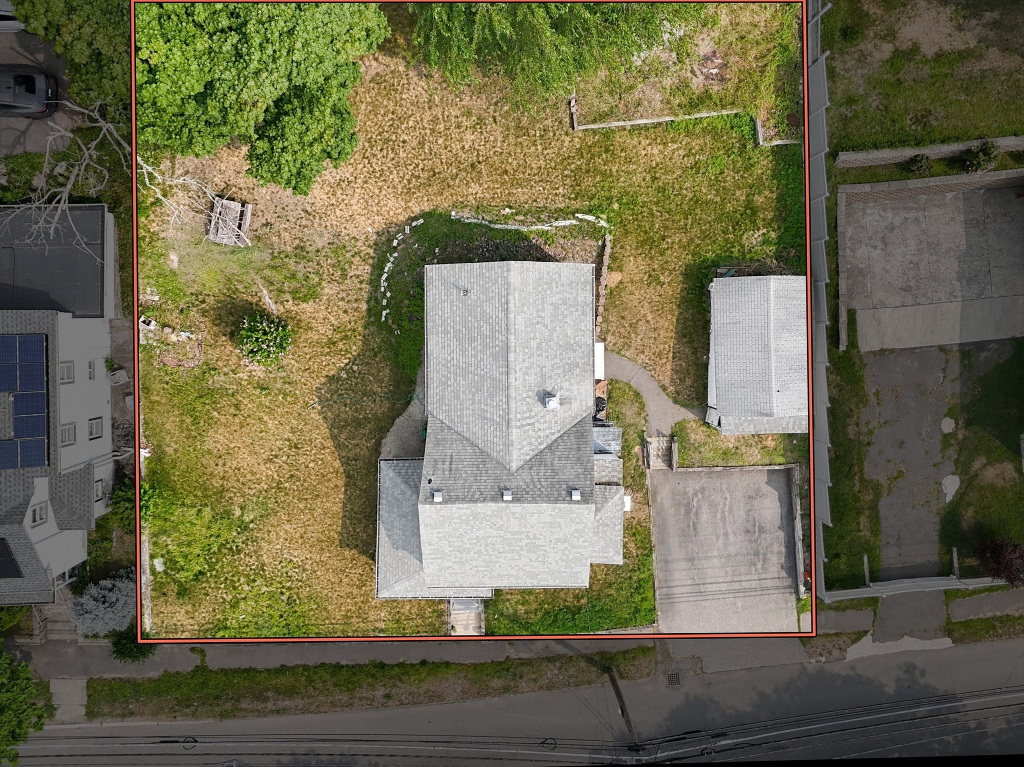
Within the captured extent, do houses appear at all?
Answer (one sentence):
Yes, this view includes a house.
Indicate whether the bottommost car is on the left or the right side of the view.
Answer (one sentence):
You can find the bottommost car on the left side of the picture.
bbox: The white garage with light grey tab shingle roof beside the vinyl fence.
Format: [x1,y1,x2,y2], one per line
[697,273,814,438]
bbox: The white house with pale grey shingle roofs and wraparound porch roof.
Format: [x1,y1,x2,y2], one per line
[375,259,630,601]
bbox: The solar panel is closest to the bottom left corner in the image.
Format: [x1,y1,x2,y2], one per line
[0,541,22,581]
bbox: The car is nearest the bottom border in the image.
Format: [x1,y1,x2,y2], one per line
[0,64,56,118]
